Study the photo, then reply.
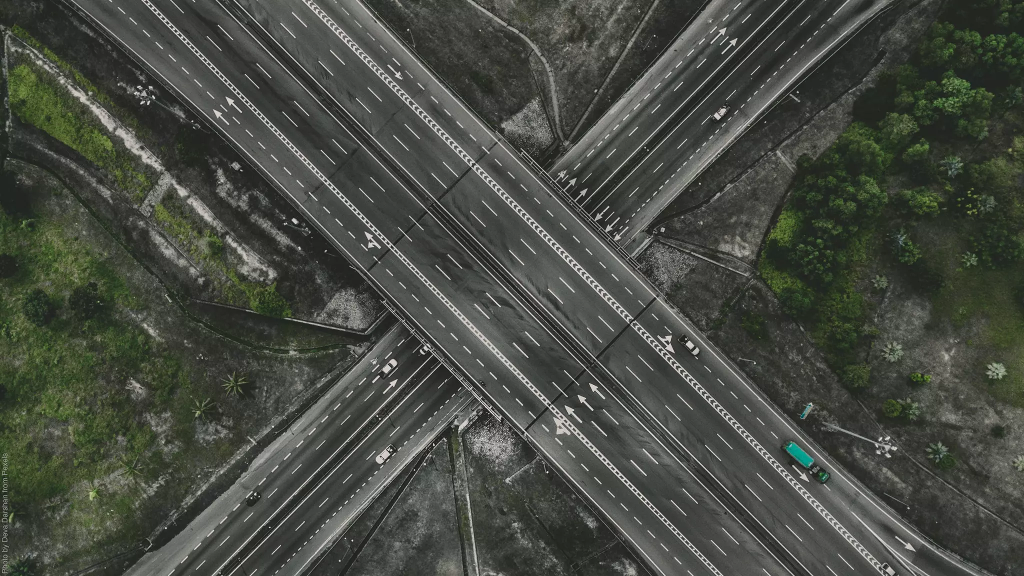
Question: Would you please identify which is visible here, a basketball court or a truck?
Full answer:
The image shows a truck.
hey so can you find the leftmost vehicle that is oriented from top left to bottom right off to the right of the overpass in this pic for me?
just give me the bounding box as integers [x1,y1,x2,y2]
[677,332,701,356]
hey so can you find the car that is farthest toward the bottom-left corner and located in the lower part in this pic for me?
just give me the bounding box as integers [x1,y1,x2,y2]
[245,491,262,507]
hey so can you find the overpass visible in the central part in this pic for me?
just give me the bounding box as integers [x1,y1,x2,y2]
[357,131,667,442]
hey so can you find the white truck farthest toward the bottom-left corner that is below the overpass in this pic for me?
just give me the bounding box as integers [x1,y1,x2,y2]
[375,442,398,464]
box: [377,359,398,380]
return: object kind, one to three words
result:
truck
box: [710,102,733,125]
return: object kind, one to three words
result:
truck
